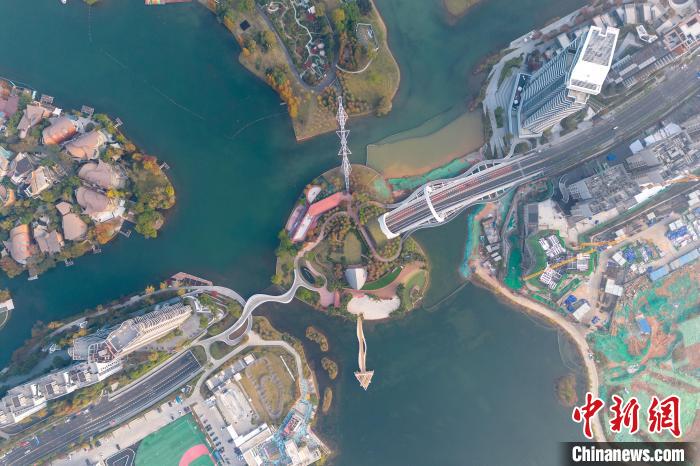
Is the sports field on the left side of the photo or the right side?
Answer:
left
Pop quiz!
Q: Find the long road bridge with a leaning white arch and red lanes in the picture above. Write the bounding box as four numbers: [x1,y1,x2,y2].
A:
[373,141,548,240]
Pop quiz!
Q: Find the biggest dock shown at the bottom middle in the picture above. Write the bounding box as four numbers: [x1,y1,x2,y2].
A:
[354,315,375,389]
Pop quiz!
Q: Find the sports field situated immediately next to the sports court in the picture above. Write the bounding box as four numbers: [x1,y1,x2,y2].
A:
[137,413,227,466]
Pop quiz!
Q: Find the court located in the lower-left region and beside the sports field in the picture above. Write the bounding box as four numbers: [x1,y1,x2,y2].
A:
[105,441,142,466]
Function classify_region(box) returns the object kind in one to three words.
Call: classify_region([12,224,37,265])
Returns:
house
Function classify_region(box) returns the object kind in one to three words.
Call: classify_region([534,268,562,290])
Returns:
building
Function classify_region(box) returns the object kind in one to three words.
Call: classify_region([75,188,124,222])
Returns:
house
